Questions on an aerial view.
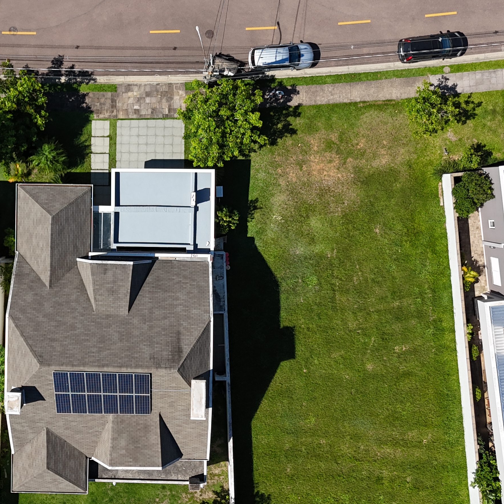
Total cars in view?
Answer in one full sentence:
The count of cars comes to 2.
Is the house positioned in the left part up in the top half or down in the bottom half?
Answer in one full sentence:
Seen from above, the house positioned in the left part lies in the bottom half of the view.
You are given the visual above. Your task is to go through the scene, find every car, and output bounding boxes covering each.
[247,40,314,75]
[394,29,460,65]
